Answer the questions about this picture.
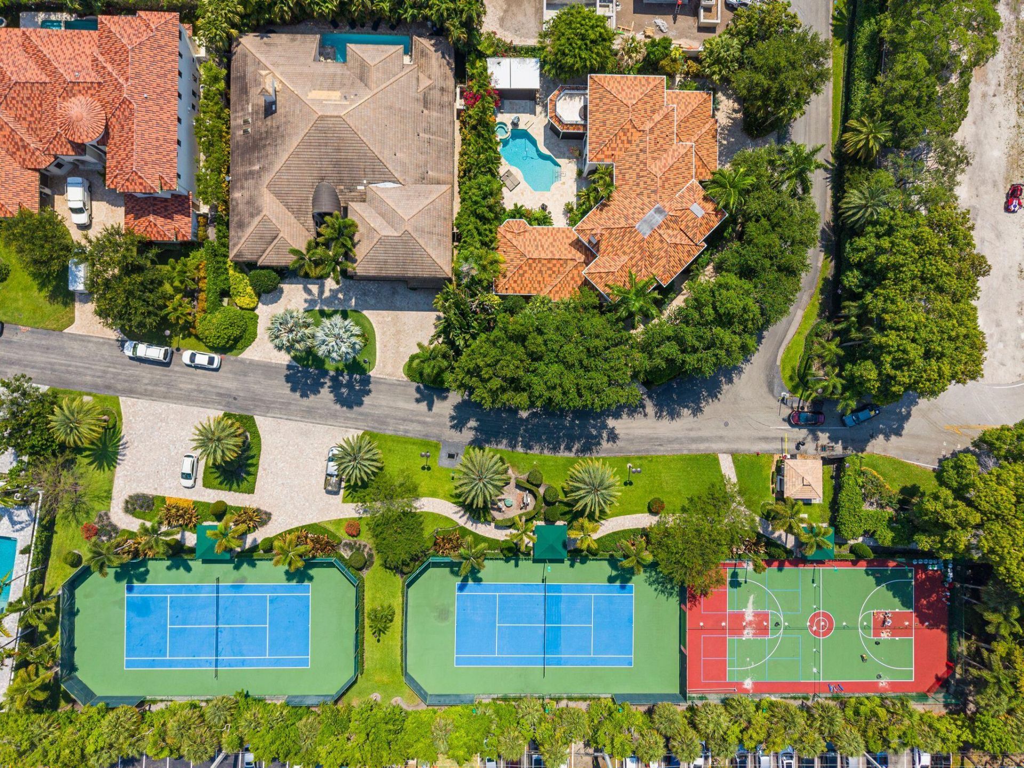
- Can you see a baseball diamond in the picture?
No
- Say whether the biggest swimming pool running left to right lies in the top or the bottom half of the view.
top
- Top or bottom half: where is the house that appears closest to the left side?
top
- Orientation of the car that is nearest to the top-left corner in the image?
vertically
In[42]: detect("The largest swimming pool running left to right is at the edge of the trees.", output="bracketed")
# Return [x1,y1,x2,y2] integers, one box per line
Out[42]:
[319,32,412,63]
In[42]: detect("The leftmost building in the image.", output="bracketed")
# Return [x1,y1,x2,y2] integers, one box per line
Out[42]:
[0,10,204,242]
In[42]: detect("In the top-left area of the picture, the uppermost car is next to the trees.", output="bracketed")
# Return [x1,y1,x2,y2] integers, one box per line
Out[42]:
[70,178,94,226]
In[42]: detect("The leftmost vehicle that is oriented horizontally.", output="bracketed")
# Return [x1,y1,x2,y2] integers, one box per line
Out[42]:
[125,341,174,363]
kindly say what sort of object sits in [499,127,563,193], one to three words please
swimming pool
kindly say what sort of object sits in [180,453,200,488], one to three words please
car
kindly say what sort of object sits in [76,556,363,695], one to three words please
tennis court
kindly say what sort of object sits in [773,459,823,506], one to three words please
building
